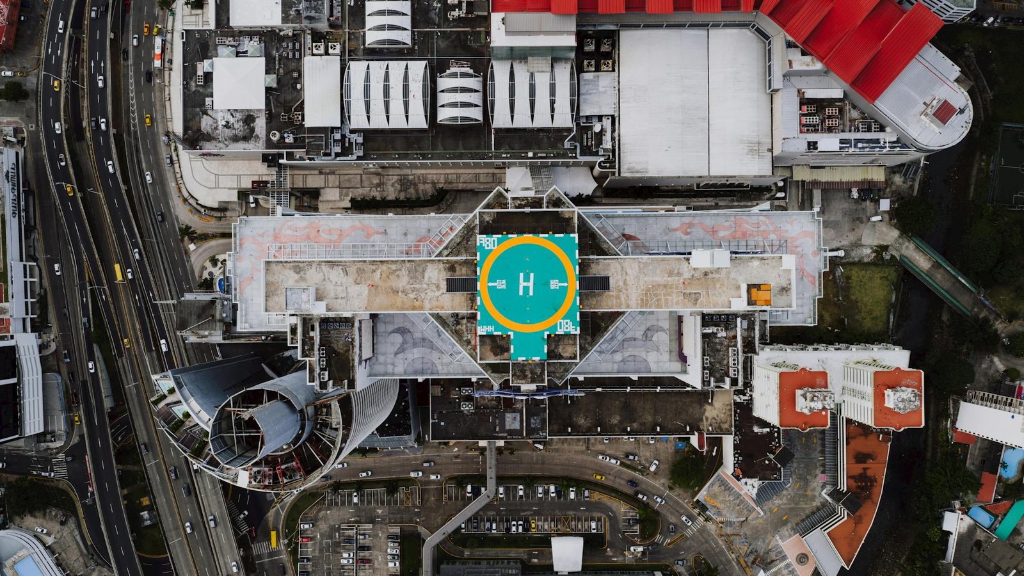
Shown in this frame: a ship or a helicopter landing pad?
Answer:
helicopter landing pad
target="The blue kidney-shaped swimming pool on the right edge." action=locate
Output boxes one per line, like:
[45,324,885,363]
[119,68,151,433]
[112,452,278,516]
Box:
[998,446,1024,480]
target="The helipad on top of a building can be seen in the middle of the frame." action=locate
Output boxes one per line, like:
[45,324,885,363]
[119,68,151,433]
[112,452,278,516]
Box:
[446,231,609,363]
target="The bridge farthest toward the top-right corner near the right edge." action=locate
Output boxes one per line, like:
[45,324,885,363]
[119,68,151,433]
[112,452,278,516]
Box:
[883,230,997,326]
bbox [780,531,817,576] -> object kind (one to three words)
building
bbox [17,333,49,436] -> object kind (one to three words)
building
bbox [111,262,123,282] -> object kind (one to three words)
vehicle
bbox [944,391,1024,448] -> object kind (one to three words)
house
